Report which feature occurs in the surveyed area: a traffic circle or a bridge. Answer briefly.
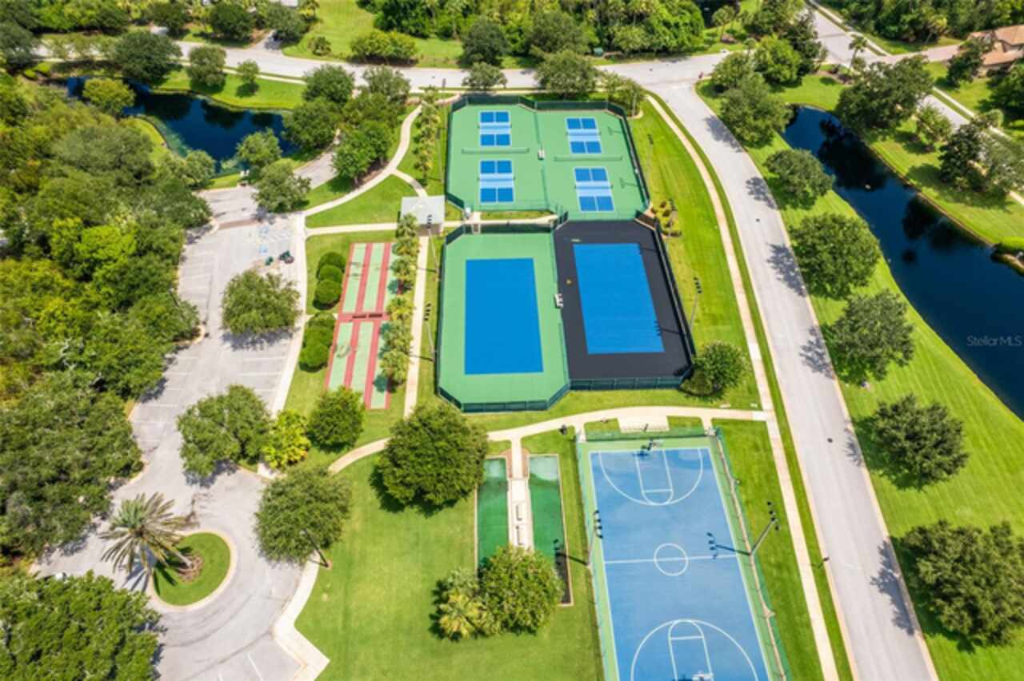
traffic circle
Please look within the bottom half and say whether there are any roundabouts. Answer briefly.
Yes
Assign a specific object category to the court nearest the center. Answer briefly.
tennis court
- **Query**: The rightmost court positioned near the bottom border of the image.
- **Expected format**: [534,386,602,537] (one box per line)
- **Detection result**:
[577,438,783,681]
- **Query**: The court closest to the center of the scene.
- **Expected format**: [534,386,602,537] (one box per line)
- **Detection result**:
[439,232,569,412]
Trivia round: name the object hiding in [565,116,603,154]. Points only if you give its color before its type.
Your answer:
blue sports court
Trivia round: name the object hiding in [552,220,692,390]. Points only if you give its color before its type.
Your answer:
blue tennis court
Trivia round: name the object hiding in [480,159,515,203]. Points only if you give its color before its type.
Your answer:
blue sports court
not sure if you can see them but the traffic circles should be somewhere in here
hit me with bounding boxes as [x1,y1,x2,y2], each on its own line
[148,529,236,612]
